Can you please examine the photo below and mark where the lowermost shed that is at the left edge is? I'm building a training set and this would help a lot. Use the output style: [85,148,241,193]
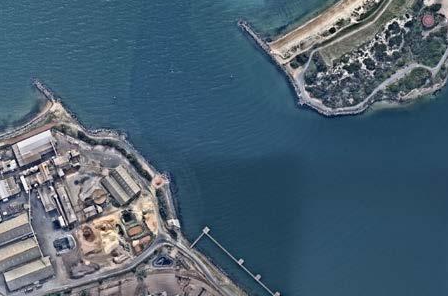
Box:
[2,257,55,292]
